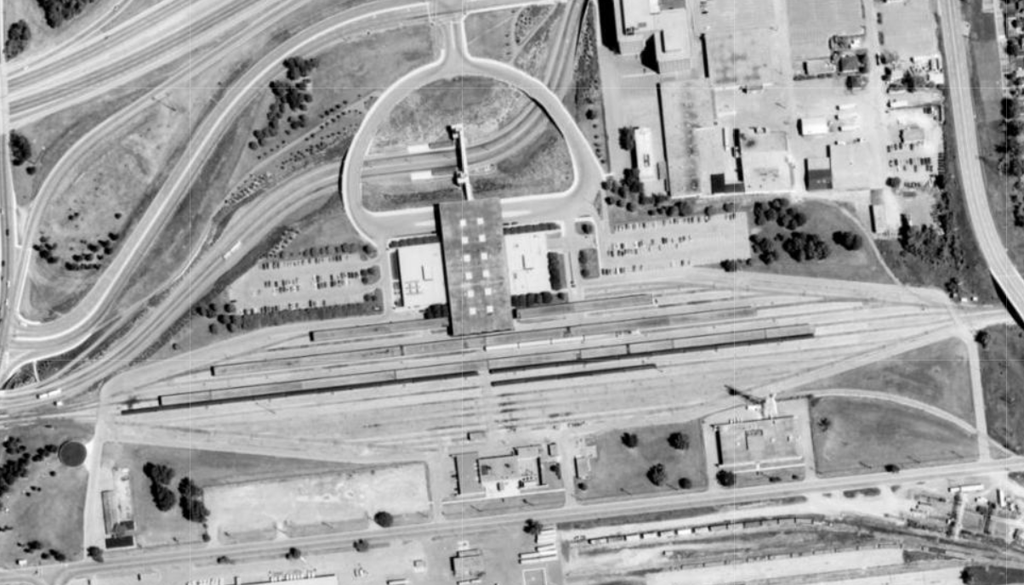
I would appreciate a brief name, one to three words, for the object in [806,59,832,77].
building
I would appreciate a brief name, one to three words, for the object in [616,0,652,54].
building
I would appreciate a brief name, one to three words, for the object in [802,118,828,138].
shed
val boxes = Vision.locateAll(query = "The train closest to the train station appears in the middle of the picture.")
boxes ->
[486,336,584,351]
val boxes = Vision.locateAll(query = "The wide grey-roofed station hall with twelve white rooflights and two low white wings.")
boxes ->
[398,198,553,337]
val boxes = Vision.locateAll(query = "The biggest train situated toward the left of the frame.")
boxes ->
[122,372,478,415]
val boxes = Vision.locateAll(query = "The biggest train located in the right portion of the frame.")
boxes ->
[491,334,814,374]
